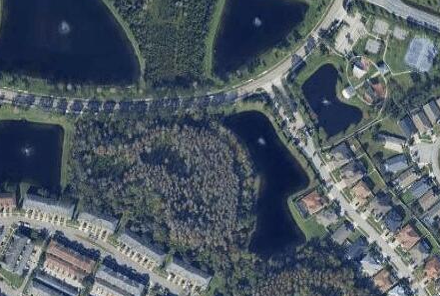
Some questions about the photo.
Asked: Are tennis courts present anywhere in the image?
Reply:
Yes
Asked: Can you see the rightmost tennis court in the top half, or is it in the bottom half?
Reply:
top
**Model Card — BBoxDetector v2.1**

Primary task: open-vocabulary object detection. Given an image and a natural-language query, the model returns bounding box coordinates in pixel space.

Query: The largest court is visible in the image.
[405,36,439,70]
